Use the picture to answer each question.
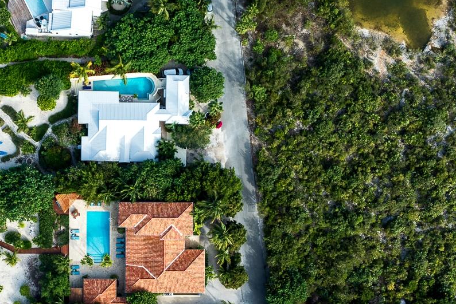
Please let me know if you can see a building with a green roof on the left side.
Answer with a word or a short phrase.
No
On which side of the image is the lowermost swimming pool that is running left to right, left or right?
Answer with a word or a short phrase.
left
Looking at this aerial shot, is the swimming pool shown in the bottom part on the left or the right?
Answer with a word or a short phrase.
left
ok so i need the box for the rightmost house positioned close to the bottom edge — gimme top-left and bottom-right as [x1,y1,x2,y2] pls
[118,201,205,296]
